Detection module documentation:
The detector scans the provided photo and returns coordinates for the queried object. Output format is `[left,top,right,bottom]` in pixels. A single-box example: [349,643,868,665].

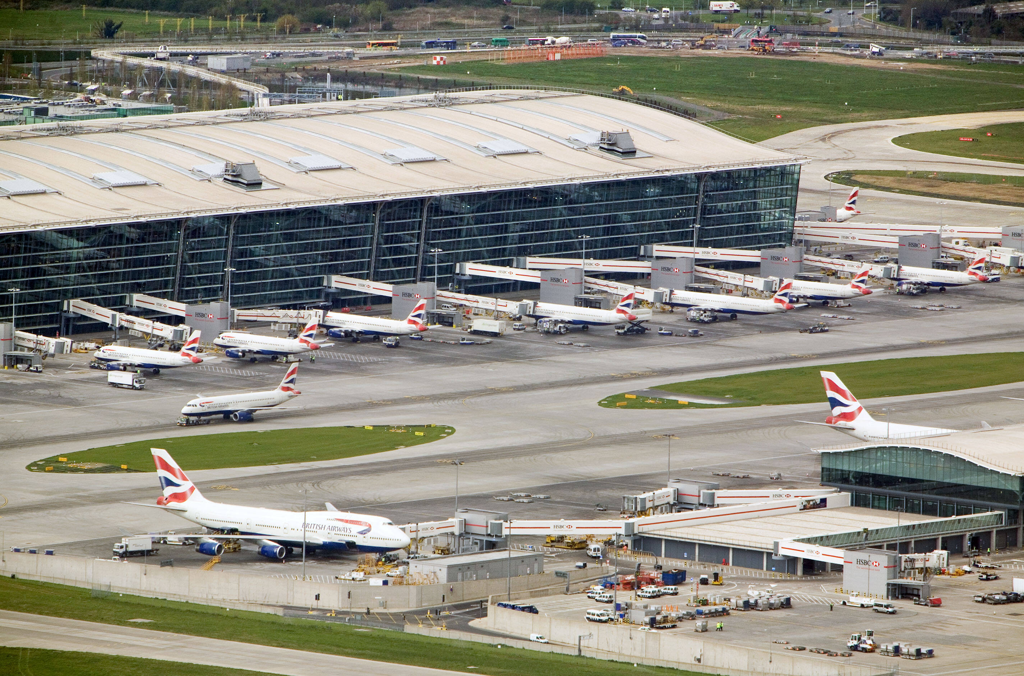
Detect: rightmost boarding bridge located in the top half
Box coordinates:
[937,241,1024,281]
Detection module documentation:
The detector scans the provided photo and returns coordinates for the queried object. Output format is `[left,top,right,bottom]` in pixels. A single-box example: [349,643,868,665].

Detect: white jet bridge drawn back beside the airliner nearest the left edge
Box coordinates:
[10,332,73,364]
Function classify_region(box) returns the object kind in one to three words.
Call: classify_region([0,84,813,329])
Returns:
building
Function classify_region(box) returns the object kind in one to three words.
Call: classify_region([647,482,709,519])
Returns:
building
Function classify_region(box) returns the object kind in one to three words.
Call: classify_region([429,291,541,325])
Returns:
jet bridge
